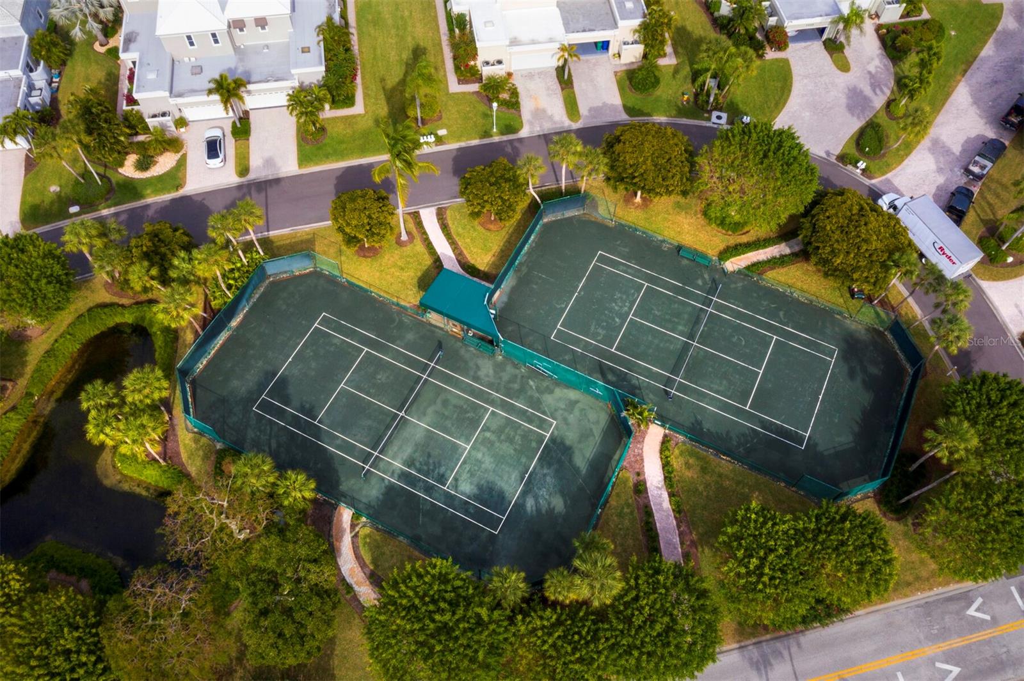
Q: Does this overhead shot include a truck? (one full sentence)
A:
Yes, the frame does contain a truck.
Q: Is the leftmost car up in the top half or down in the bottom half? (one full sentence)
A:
The leftmost car sits in the top half of the picture.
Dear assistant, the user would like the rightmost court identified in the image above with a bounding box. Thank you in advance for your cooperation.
[491,215,909,489]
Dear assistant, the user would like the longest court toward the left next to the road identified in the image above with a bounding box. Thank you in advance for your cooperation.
[192,272,624,585]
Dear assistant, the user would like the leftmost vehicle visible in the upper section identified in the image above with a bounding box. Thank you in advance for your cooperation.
[201,130,226,169]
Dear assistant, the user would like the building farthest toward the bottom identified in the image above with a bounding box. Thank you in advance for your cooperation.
[420,268,503,348]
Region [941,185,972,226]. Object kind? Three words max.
truck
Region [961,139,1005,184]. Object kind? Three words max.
truck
